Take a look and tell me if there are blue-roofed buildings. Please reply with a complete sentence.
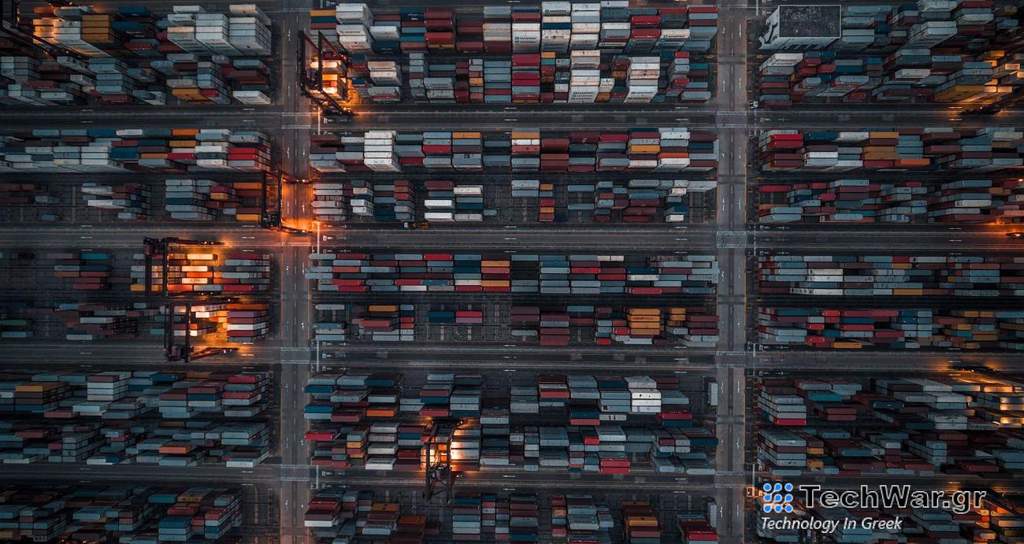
No, the photo shows no blue-roofed building.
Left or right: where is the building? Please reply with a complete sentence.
It is on the right.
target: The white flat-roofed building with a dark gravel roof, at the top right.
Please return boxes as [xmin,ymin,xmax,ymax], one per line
[757,4,841,51]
